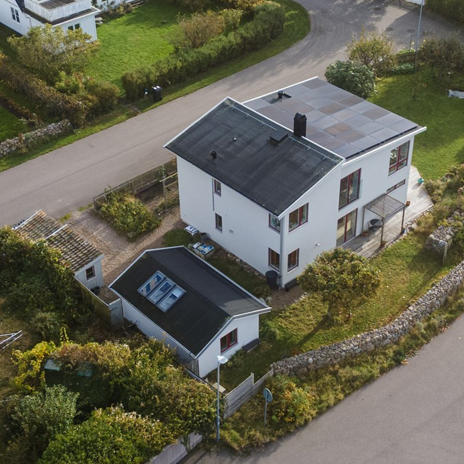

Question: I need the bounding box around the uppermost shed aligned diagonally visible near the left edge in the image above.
[14,208,106,290]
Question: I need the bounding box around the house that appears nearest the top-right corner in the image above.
[165,78,431,289]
